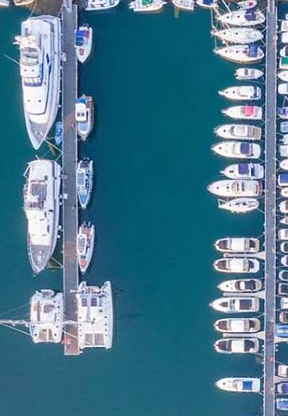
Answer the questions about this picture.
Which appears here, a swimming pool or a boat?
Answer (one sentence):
Looking from above, you can make out a boat.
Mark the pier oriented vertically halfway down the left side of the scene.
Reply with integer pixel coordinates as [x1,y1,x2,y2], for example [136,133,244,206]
[62,4,80,356]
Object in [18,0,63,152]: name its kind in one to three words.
boat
